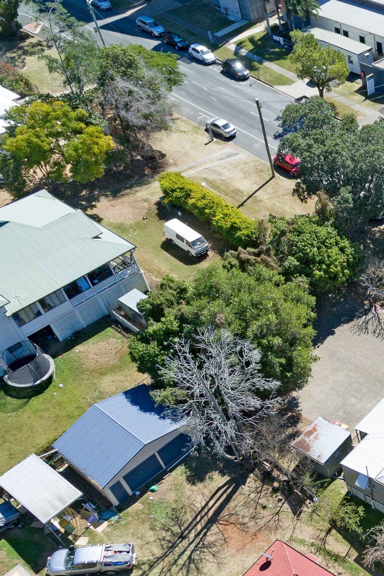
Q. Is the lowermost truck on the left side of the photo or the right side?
left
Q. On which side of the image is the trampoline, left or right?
left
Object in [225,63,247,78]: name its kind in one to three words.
car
